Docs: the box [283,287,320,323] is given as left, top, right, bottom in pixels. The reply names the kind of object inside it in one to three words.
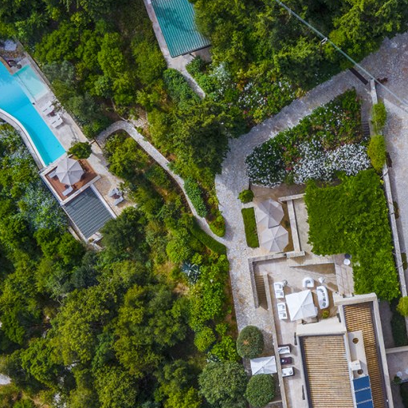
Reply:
umbrella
